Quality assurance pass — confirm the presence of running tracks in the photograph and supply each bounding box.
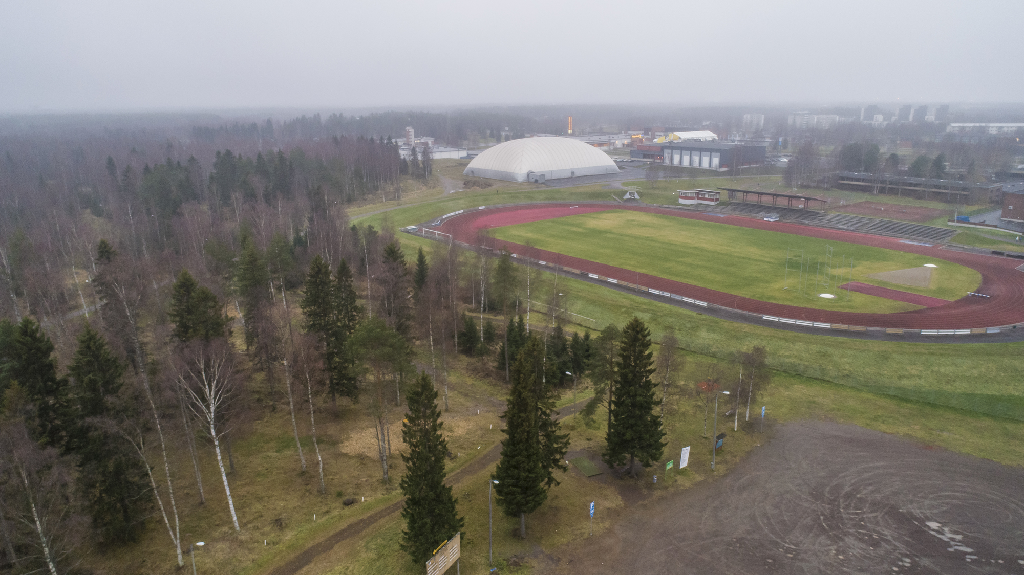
[440,202,1024,328]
